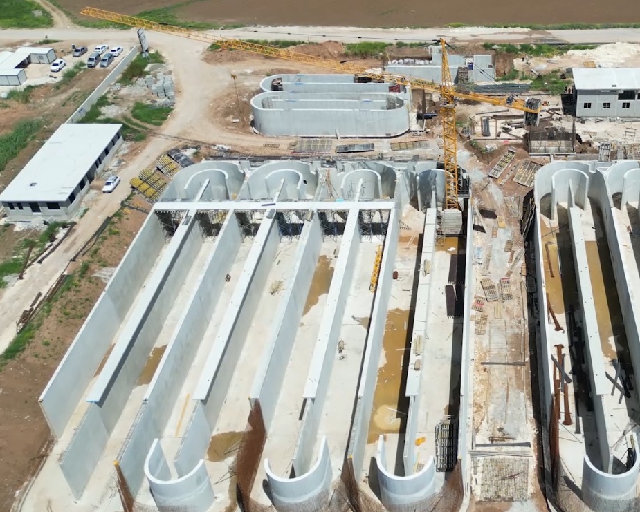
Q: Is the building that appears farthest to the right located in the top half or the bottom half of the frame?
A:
top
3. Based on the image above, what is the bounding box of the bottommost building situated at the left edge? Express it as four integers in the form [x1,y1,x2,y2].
[0,122,123,220]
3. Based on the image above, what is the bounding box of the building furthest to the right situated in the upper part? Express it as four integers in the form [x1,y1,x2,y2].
[570,60,640,118]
